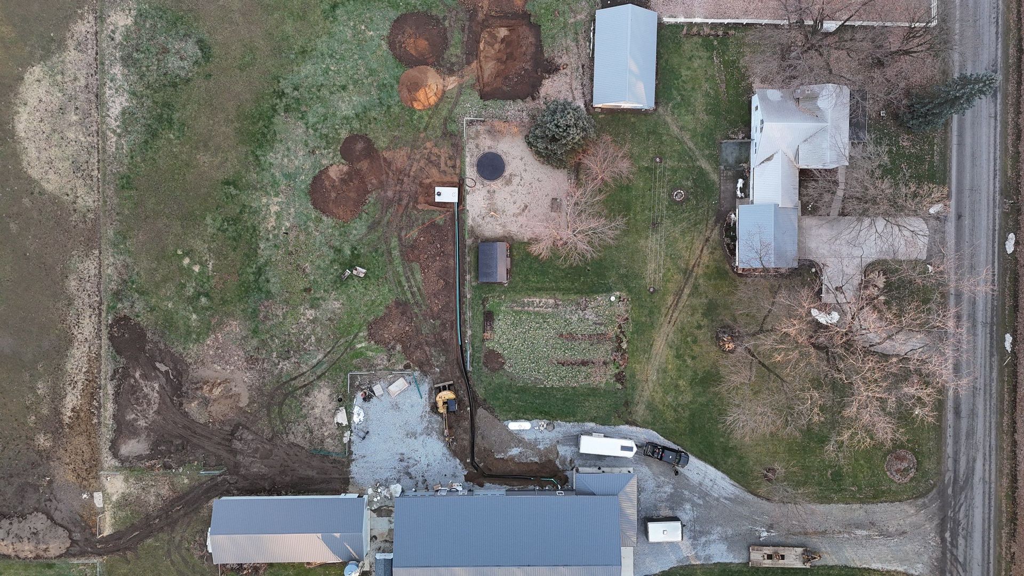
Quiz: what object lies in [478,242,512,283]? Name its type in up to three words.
shed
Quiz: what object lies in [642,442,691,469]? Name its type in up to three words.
truck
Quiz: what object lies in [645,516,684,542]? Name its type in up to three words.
trailer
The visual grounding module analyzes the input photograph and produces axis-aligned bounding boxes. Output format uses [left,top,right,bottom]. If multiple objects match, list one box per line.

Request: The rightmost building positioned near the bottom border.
[393,470,638,576]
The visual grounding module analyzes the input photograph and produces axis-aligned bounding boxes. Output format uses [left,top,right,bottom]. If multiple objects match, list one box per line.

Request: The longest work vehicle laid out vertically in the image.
[434,380,457,446]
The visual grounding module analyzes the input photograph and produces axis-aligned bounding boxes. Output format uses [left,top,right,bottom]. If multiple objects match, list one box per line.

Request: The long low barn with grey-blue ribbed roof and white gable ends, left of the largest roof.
[209,495,369,564]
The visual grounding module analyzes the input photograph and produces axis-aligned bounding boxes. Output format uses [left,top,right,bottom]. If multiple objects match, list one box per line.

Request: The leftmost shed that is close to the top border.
[593,4,657,110]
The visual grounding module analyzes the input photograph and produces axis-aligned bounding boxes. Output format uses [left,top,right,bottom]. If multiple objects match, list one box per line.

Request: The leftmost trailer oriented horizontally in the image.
[576,429,640,457]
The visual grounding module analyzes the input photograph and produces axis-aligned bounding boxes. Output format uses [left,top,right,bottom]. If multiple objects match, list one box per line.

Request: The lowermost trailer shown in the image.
[748,545,819,568]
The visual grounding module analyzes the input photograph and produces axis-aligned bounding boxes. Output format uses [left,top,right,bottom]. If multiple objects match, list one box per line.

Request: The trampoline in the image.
[474,150,507,183]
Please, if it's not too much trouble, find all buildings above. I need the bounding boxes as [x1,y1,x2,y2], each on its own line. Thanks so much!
[393,470,638,576]
[209,495,369,564]
[478,242,512,283]
[593,4,657,110]
[736,84,849,268]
